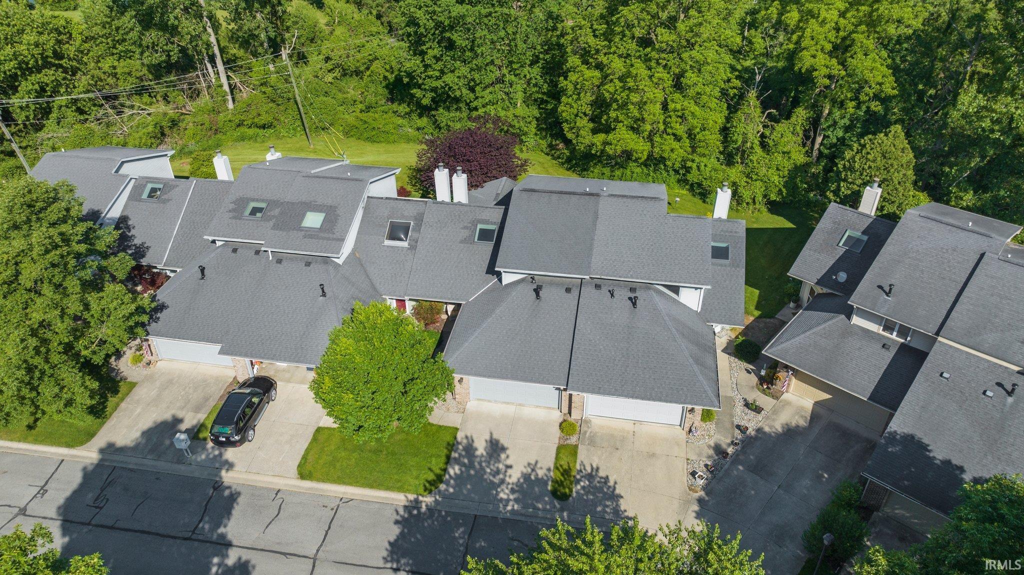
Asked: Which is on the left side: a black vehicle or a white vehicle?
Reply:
black vehicle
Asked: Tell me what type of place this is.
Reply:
residential area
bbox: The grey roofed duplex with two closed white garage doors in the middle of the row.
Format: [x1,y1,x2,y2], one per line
[409,159,745,428]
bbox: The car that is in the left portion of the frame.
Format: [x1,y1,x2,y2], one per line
[208,379,275,448]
